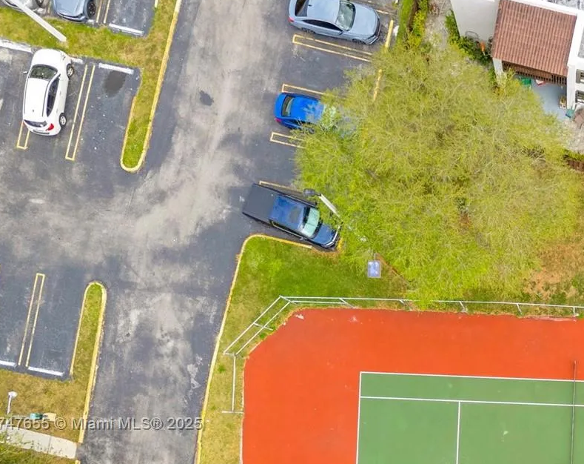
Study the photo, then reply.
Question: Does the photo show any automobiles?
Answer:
Yes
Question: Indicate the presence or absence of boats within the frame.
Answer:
No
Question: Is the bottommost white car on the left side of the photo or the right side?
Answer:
left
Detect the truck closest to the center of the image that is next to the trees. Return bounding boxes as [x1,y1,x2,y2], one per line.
[239,183,345,253]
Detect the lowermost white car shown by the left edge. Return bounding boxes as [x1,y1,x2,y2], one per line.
[23,52,74,133]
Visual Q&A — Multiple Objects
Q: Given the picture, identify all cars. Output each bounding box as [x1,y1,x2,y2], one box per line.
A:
[289,0,379,47]
[56,0,96,20]
[5,0,40,8]
[274,93,356,138]
[23,52,74,133]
